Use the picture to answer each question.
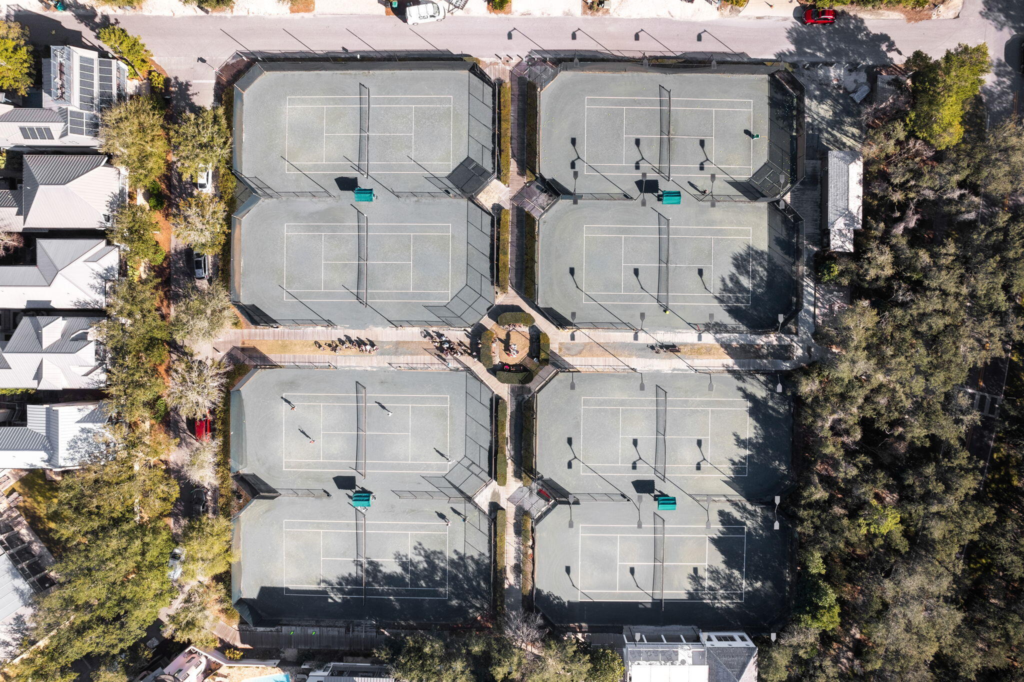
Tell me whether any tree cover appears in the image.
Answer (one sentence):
Yes, tree cover can be seen from above here.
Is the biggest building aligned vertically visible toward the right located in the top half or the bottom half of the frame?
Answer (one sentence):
Seen from above, the biggest building aligned vertically visible toward the right lies in the top half of the view.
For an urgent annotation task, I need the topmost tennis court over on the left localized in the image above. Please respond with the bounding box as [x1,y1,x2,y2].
[243,71,496,197]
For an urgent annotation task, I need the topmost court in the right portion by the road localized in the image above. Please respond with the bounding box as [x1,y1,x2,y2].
[541,73,795,199]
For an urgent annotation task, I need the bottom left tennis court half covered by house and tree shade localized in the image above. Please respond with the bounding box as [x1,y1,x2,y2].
[241,498,491,625]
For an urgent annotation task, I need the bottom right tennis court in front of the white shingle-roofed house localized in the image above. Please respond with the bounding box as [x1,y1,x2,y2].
[536,501,792,626]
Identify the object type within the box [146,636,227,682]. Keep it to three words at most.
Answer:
house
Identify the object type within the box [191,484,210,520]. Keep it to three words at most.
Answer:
vehicle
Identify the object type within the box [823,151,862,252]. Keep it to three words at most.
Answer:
building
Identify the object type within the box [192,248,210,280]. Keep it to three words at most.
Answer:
car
